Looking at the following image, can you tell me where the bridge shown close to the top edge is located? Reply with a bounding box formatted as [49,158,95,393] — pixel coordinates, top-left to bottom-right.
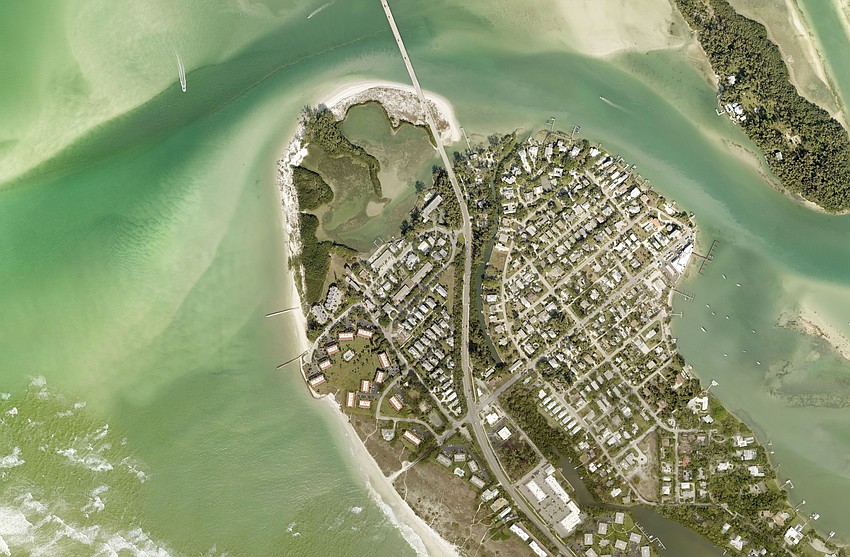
[381,0,446,152]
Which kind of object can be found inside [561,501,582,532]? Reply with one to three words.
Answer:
building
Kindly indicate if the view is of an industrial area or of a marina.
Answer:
marina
